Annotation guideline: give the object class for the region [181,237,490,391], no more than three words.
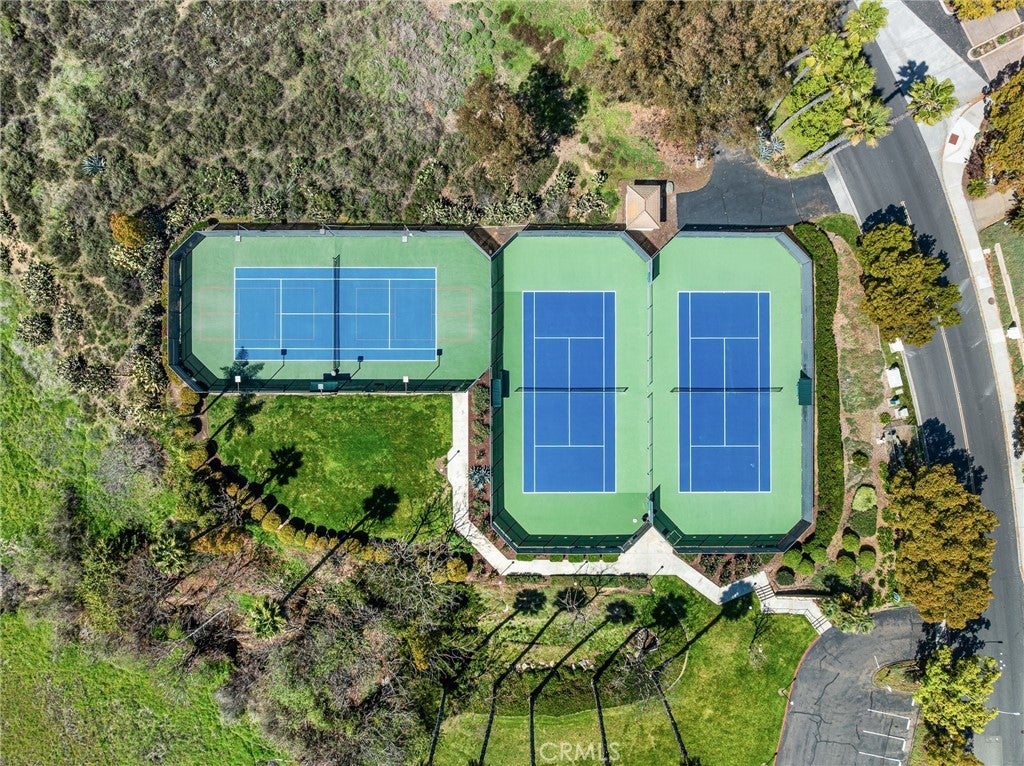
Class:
tennis court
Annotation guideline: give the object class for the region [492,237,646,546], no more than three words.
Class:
tennis court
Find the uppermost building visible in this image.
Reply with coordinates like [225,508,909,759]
[625,185,661,231]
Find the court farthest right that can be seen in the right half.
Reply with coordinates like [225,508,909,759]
[647,238,800,545]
